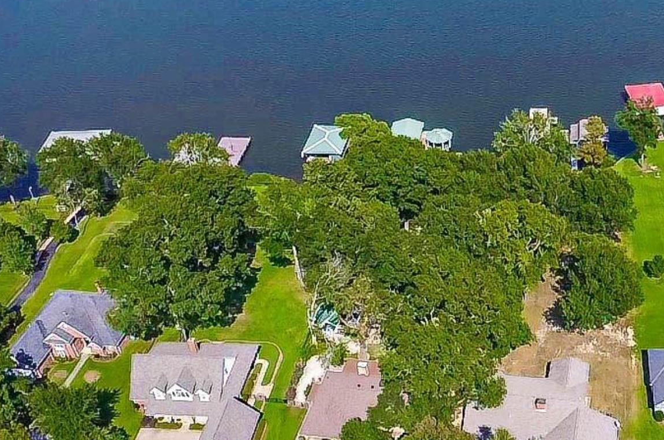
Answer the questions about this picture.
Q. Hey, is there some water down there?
Yes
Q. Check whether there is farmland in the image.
No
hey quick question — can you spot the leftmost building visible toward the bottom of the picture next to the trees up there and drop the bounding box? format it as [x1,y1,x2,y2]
[5,284,144,377]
